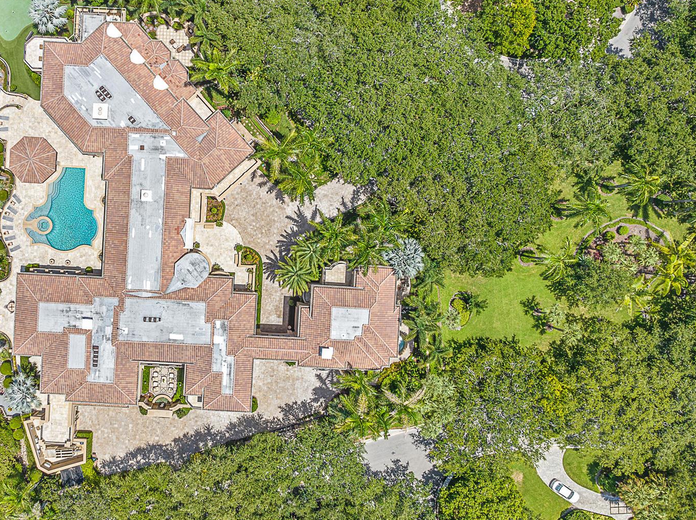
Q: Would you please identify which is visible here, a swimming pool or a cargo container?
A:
swimming pool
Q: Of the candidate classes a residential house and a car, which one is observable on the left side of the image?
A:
residential house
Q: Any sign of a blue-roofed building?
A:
No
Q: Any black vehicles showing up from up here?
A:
No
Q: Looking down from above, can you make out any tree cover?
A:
Yes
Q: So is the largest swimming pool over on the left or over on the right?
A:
left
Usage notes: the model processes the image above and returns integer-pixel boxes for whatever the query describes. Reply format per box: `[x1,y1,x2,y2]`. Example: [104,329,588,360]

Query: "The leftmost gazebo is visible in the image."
[8,136,64,184]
